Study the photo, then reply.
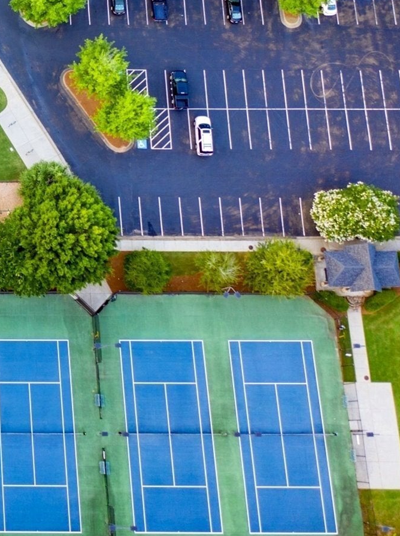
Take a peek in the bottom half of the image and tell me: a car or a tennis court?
tennis court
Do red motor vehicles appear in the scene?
No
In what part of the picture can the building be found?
right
